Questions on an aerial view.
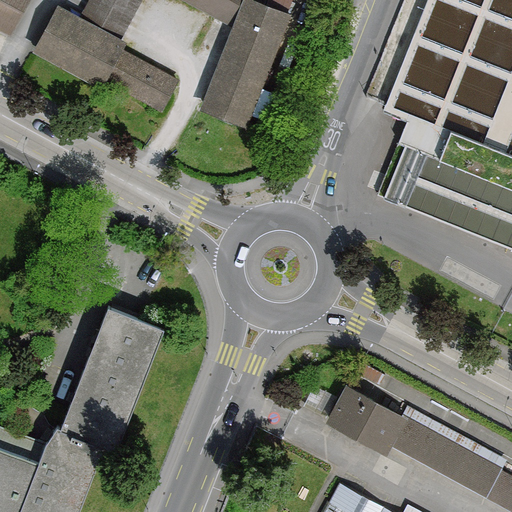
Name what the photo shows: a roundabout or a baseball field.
roundabout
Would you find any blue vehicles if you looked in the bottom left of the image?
Yes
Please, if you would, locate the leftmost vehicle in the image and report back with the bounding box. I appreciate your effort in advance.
[30,119,54,137]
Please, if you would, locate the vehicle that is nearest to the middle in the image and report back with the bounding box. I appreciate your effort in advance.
[235,244,249,268]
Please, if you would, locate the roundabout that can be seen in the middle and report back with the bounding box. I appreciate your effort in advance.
[214,200,346,333]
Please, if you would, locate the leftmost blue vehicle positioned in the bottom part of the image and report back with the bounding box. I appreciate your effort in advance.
[57,370,73,400]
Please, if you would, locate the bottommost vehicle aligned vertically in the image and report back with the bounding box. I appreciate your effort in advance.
[224,402,238,426]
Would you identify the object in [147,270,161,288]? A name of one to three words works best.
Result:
car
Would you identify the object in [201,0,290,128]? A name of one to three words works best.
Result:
barn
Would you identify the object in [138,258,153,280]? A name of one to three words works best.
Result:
car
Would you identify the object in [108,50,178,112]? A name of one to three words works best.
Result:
house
